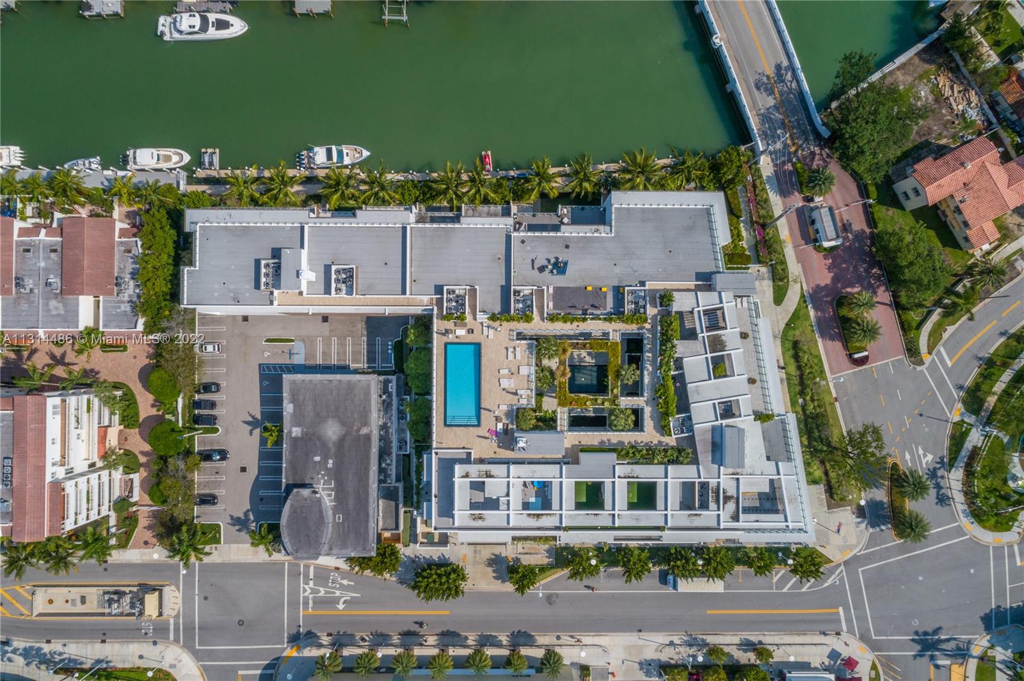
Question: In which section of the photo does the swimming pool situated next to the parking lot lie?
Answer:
center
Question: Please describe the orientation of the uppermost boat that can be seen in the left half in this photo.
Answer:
from side to side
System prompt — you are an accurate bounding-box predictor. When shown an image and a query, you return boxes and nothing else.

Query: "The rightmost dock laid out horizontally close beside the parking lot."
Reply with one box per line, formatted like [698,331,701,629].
[195,153,682,182]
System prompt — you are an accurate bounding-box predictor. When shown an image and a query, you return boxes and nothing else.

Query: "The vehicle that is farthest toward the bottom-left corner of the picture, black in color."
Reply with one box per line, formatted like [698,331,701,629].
[196,495,219,507]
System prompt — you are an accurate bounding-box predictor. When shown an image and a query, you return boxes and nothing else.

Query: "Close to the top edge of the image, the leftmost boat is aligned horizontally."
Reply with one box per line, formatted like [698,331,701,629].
[158,12,248,41]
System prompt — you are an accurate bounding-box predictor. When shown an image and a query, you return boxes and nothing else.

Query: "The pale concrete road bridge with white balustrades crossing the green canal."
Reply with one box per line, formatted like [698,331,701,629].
[694,0,831,154]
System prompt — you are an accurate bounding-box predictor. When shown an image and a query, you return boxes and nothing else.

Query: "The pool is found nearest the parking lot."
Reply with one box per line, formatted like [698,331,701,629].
[444,342,480,427]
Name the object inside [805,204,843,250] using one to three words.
building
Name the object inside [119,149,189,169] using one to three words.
boat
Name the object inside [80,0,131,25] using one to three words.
pier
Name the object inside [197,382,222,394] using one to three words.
vehicle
